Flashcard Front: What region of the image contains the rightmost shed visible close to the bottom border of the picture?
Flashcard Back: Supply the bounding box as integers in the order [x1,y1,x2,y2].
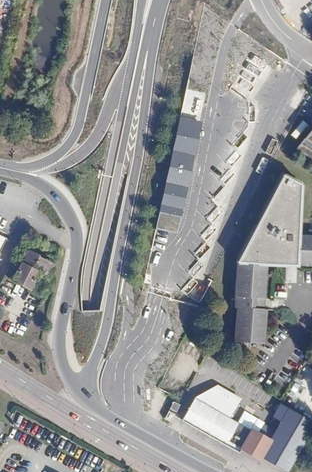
[265,404,308,472]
